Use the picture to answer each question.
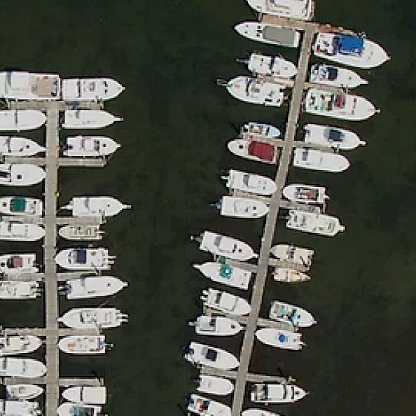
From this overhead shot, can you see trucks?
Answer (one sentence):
No, I can see no truck in this picture.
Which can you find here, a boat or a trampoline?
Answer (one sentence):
Visible in the photo is a boat.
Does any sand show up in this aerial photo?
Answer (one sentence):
No, no sand is visible.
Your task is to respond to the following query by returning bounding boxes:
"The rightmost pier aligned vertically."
[198,13,360,416]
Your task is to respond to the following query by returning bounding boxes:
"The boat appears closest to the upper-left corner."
[0,70,60,100]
